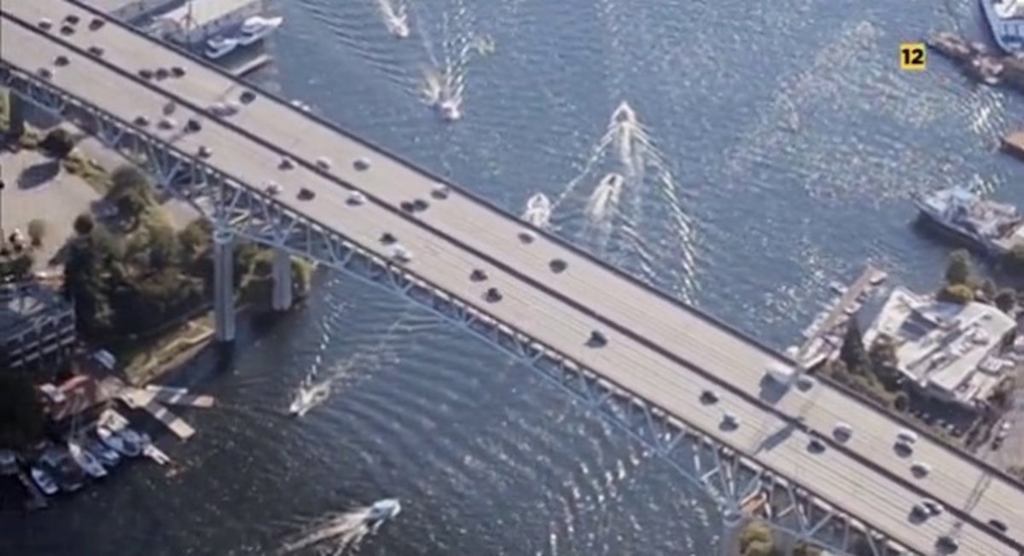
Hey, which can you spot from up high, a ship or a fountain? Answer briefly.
ship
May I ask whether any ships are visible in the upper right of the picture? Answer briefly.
Yes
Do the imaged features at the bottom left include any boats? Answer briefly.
Yes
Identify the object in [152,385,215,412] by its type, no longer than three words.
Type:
pier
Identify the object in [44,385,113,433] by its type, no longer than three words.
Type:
building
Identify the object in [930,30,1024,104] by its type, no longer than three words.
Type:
ship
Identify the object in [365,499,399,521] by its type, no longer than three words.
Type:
boat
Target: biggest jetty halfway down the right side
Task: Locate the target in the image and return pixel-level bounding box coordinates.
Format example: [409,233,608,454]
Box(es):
[801,265,876,367]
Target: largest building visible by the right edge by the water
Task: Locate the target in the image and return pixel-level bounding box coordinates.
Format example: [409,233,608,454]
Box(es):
[863,287,1013,407]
